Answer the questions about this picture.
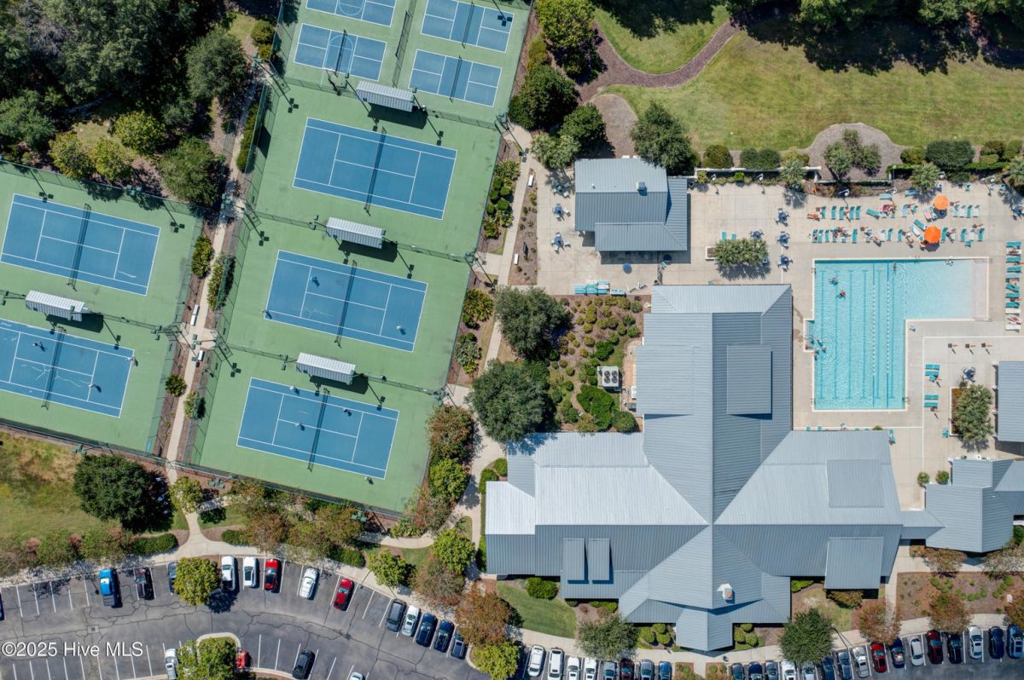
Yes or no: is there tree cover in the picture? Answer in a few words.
Yes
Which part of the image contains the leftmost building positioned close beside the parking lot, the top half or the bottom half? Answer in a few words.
bottom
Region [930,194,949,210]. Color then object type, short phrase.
orange umbrella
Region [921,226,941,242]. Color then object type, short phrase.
orange umbrella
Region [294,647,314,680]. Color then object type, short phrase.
black car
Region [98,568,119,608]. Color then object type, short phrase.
blue truck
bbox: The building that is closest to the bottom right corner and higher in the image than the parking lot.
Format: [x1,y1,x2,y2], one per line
[913,457,1024,553]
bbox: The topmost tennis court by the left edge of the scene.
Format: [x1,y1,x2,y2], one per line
[0,161,210,332]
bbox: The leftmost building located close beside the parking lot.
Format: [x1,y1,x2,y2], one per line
[486,285,903,652]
